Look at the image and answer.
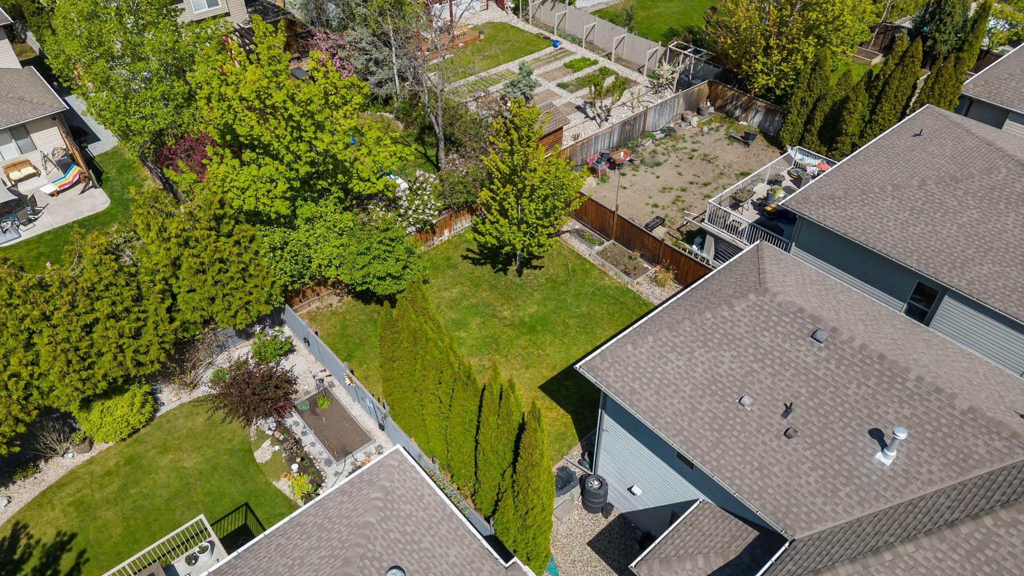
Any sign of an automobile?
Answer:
No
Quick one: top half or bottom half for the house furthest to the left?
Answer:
top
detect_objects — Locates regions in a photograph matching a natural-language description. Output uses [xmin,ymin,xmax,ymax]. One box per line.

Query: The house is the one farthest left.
[0,7,78,183]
